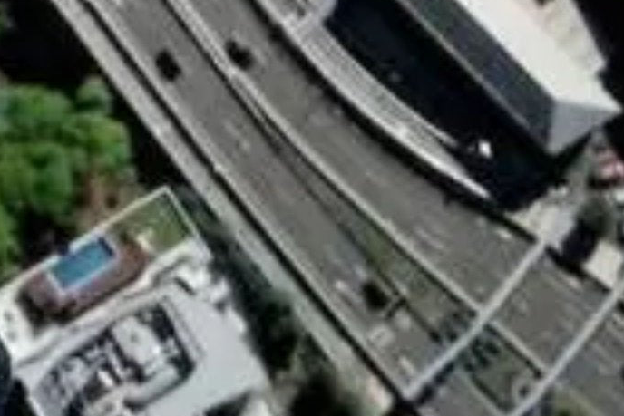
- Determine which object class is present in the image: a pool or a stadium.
pool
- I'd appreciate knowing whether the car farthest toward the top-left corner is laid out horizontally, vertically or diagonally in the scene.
diagonally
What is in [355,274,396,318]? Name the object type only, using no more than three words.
car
